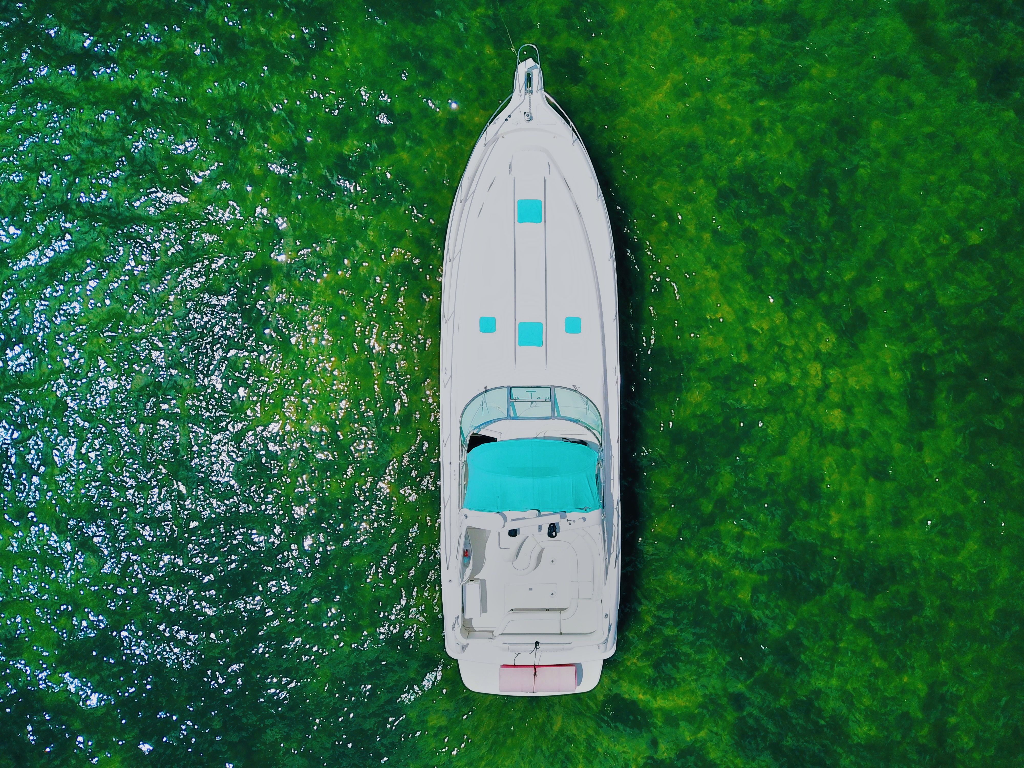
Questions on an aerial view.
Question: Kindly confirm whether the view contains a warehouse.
No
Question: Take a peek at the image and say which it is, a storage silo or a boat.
boat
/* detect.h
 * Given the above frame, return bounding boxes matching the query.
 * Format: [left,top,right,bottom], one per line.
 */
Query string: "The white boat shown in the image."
[439,43,622,696]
